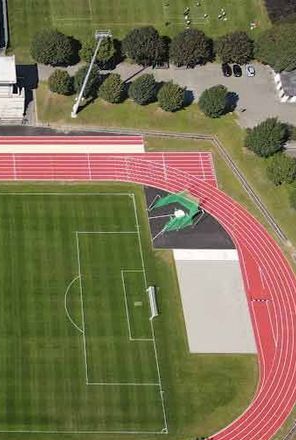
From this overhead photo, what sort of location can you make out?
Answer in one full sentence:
It's a sports ground.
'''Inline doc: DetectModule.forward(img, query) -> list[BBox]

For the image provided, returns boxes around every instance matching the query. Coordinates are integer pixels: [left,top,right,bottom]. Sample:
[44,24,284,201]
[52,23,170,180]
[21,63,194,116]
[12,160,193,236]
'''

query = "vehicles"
[245,65,256,79]
[232,64,242,78]
[220,64,231,78]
